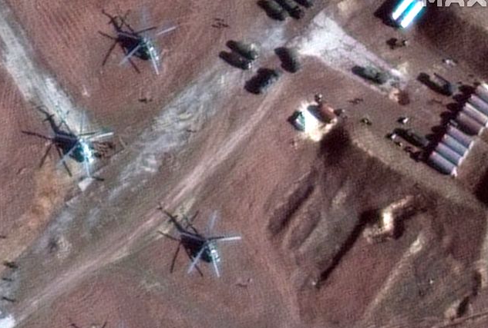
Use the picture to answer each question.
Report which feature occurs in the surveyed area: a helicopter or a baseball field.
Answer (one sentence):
Looking from above, you can make out a helicopter.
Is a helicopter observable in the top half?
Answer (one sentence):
Yes, a helicopter shows up in the top half.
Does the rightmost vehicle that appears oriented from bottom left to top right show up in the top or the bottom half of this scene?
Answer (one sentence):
Seen from above, the rightmost vehicle that appears oriented from bottom left to top right lies in the top half of the view.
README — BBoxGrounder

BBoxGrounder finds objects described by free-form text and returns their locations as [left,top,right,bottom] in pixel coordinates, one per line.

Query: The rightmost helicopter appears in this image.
[174,209,241,273]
